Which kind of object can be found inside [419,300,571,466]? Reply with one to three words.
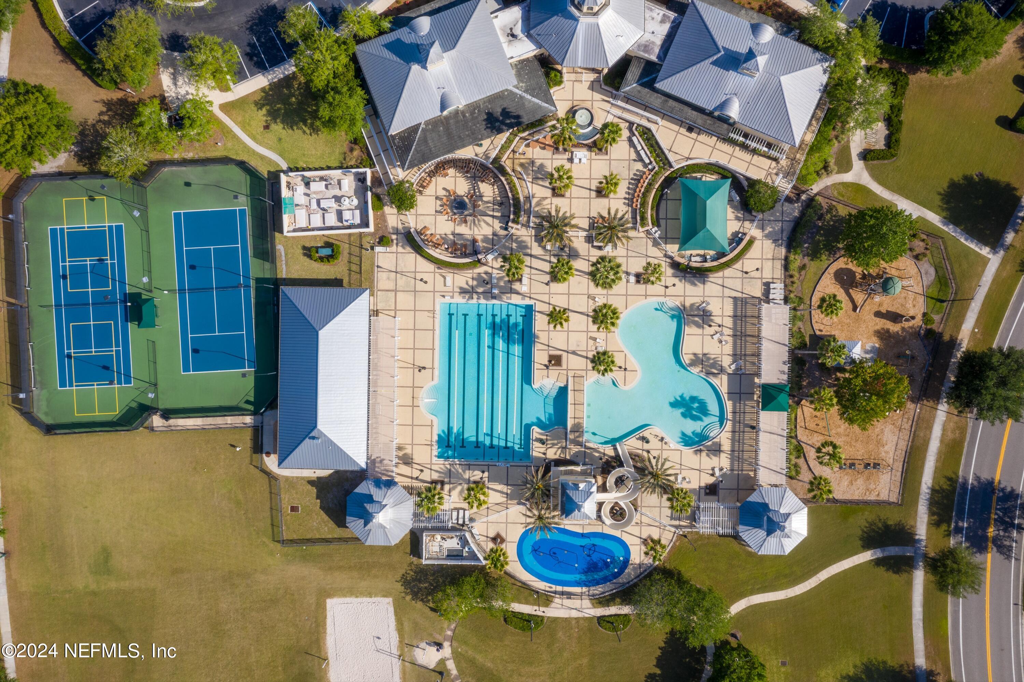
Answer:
swimming pool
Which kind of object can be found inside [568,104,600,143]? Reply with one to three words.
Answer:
fountain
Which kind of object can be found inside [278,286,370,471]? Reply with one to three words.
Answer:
building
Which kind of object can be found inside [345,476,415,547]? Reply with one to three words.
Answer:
gazebo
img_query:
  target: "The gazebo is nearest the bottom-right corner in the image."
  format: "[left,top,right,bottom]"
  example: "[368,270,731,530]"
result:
[734,484,807,555]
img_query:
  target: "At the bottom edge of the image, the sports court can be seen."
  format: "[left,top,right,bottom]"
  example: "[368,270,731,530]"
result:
[321,598,402,682]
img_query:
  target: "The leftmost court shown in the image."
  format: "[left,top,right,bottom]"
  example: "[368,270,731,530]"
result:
[23,178,159,432]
